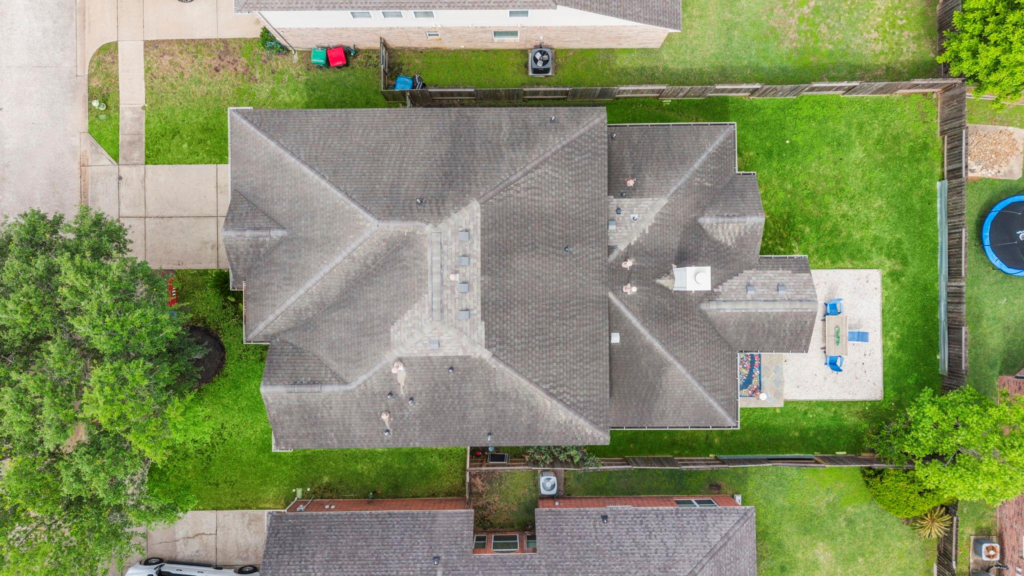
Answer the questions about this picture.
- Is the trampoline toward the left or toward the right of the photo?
right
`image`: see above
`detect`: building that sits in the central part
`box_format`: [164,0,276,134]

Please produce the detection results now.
[222,104,819,453]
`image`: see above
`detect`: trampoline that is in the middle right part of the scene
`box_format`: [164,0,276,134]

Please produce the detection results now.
[964,192,1024,280]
